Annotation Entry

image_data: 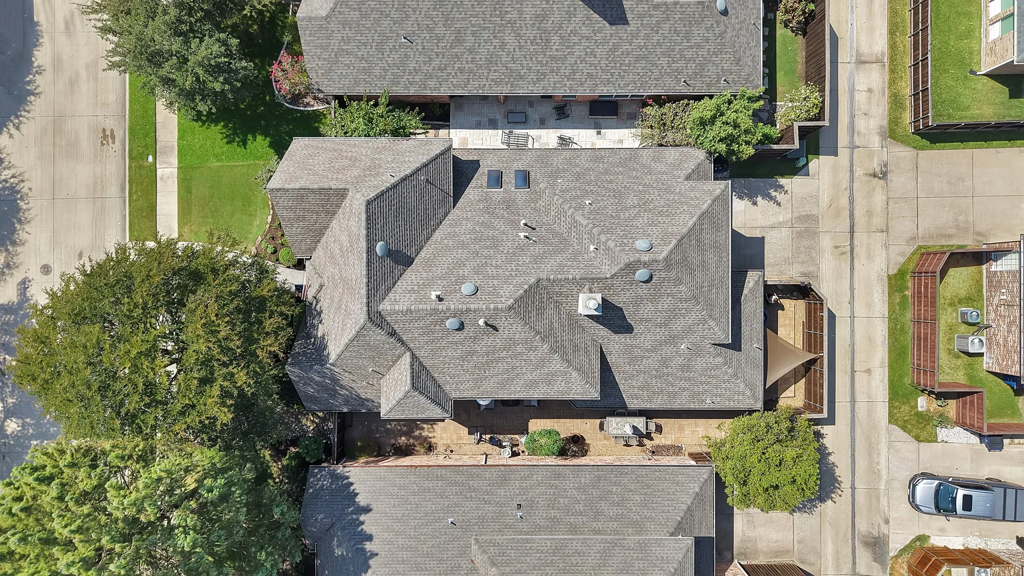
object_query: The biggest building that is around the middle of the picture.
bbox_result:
[266,135,766,421]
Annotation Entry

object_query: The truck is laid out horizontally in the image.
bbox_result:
[906,473,1024,524]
